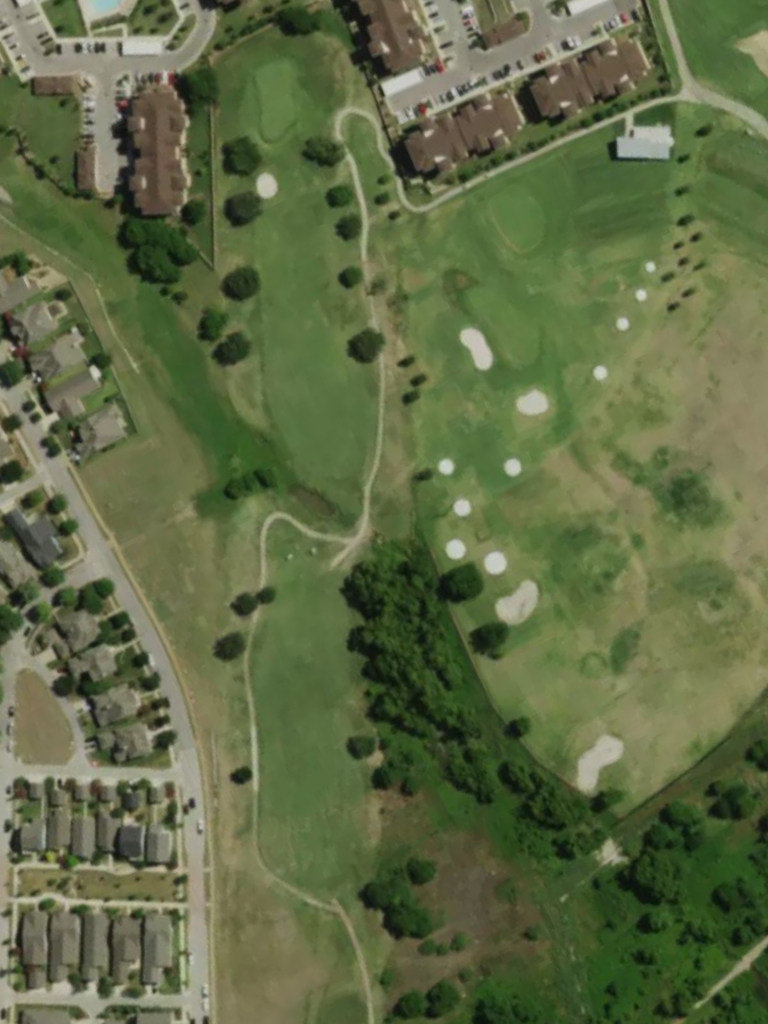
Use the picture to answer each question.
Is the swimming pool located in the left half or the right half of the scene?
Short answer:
left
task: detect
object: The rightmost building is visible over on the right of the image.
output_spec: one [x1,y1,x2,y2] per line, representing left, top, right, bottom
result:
[617,126,675,158]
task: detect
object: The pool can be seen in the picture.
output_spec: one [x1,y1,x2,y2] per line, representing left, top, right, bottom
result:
[82,0,138,22]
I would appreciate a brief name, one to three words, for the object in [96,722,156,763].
house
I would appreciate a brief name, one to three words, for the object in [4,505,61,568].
house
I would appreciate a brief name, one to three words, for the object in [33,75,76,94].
building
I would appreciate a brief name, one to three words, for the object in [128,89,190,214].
building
